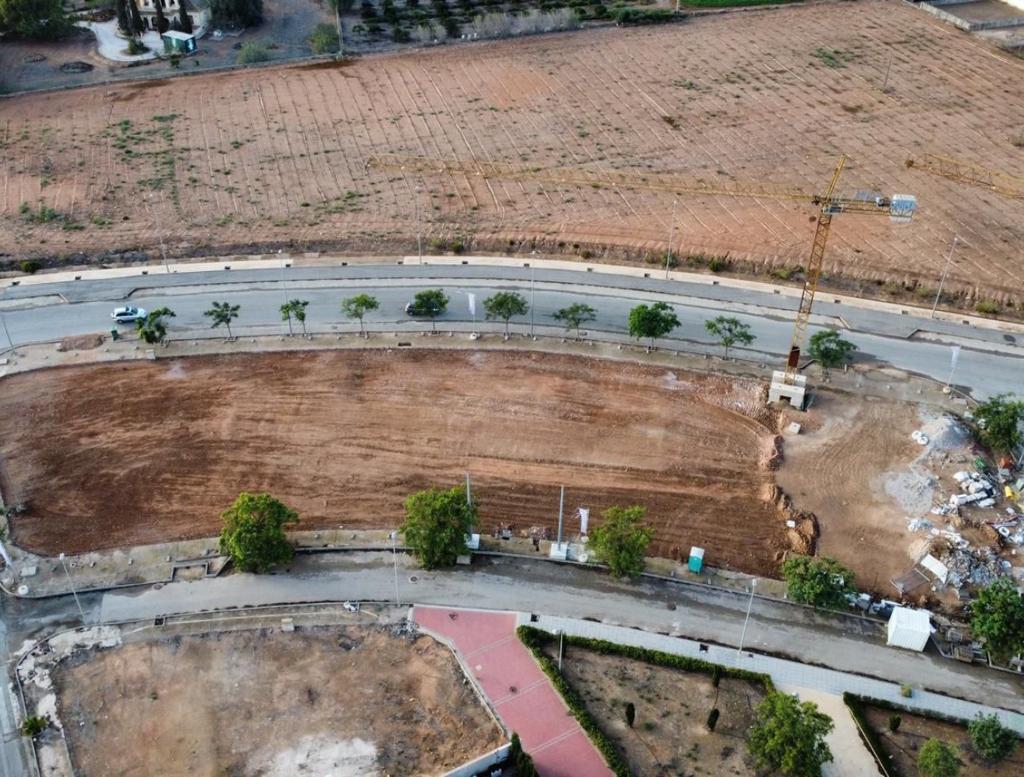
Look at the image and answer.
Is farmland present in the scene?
Yes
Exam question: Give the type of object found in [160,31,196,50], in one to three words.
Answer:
shed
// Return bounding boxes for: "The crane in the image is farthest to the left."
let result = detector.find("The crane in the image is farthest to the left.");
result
[367,154,911,406]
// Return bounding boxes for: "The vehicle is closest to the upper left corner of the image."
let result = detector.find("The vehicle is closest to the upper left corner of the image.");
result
[105,305,148,323]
